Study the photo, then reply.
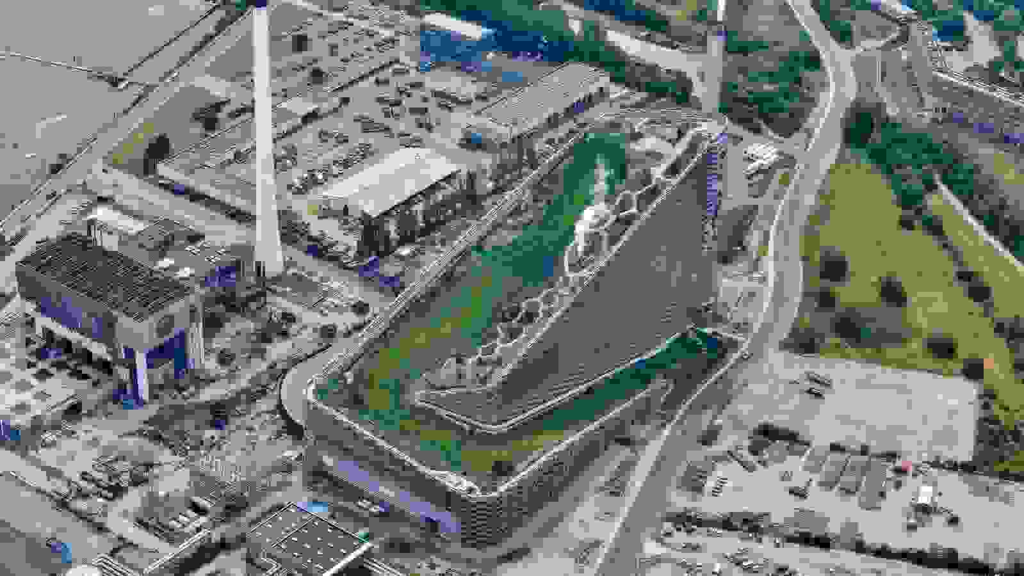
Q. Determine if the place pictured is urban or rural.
urban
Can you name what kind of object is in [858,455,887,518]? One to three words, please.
shed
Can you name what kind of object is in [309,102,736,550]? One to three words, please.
building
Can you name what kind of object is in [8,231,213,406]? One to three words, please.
building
